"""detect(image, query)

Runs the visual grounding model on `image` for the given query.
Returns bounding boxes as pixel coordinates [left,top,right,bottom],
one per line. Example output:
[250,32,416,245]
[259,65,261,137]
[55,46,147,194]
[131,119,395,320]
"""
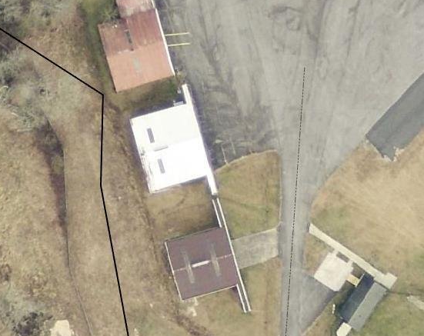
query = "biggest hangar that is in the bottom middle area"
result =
[165,198,246,312]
